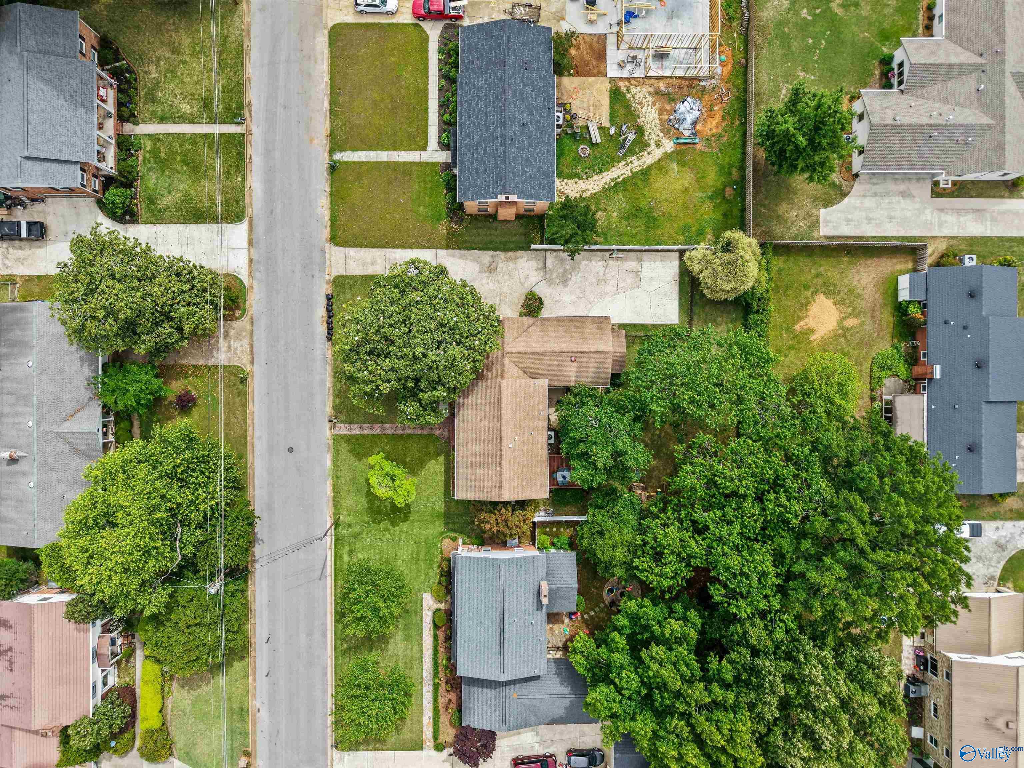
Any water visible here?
No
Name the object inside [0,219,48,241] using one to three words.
truck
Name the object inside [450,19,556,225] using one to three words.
house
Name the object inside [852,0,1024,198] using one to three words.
house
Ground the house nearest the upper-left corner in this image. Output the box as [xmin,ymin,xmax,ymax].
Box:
[0,1,129,197]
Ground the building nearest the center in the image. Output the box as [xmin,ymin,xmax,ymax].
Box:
[451,315,627,505]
